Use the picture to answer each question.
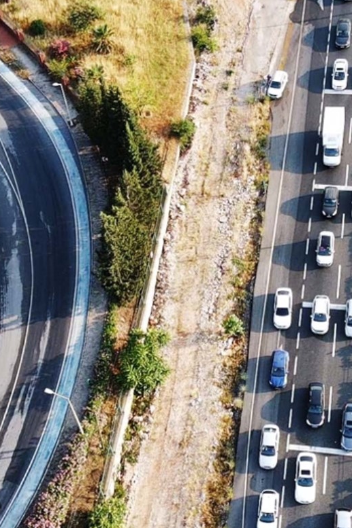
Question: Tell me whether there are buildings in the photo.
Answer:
No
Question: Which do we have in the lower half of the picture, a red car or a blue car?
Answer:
blue car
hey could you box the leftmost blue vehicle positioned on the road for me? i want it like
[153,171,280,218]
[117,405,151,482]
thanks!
[267,347,292,393]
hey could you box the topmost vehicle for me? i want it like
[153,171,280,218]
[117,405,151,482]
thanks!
[333,20,352,48]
